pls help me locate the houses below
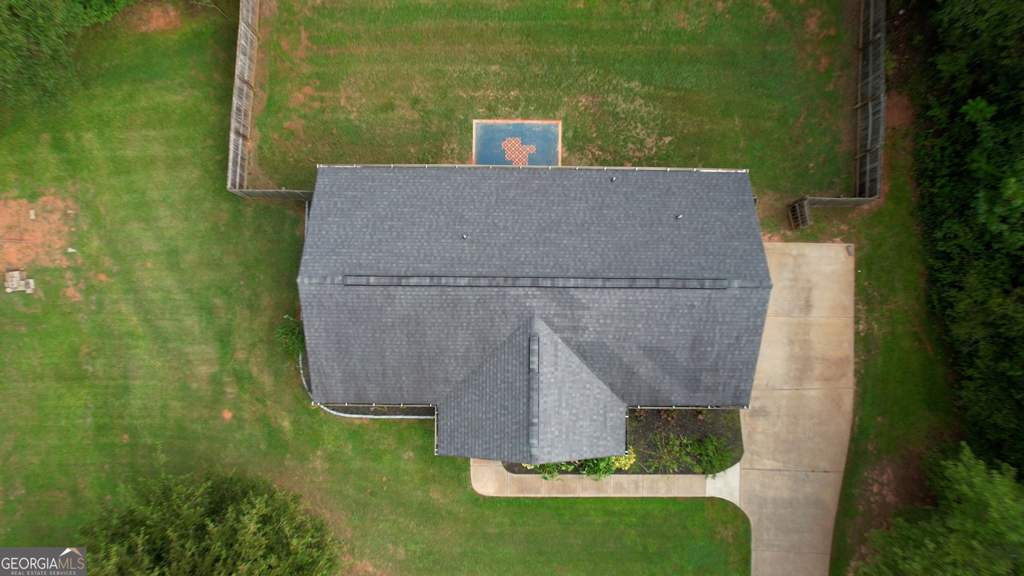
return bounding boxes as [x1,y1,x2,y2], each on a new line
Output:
[297,166,771,463]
